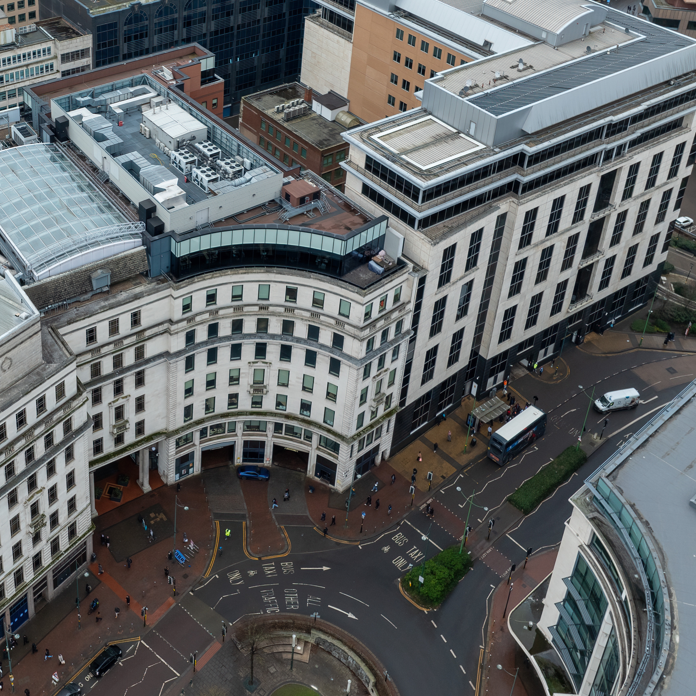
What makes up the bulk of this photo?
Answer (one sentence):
The largest share of the image is taken up by buildings.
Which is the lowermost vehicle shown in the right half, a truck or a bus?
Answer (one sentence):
The lowermost vehicle shown in the right half can be classified as a bus.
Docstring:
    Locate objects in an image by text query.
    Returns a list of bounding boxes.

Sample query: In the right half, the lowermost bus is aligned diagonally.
[486,408,549,464]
